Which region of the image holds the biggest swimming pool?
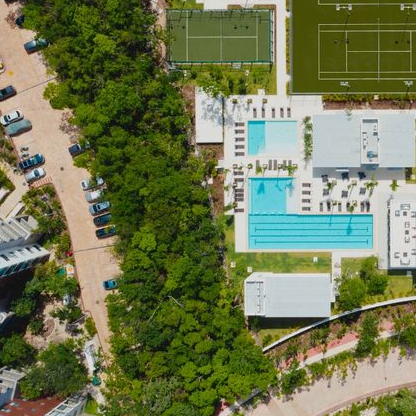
right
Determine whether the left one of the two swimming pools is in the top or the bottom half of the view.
top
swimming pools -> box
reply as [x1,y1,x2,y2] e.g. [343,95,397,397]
[247,176,374,250]
[246,120,299,156]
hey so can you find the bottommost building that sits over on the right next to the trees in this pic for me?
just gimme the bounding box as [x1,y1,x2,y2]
[245,272,332,318]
